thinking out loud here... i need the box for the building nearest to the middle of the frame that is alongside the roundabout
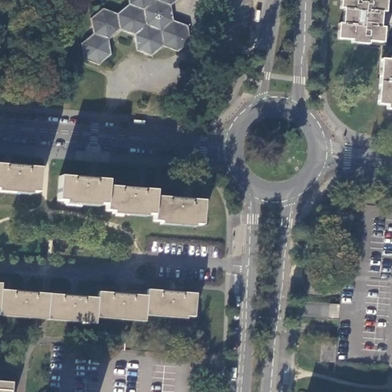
[57,174,210,232]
